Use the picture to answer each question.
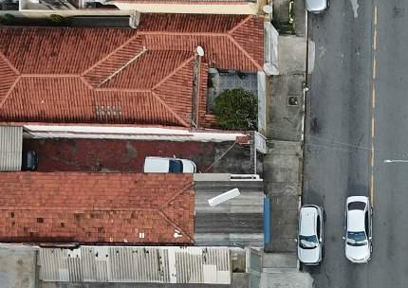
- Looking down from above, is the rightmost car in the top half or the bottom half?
bottom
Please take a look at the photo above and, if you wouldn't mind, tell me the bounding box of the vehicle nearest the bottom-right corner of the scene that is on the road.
[341,196,375,265]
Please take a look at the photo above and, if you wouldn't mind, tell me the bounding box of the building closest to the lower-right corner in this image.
[193,173,279,252]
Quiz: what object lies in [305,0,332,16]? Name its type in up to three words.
car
